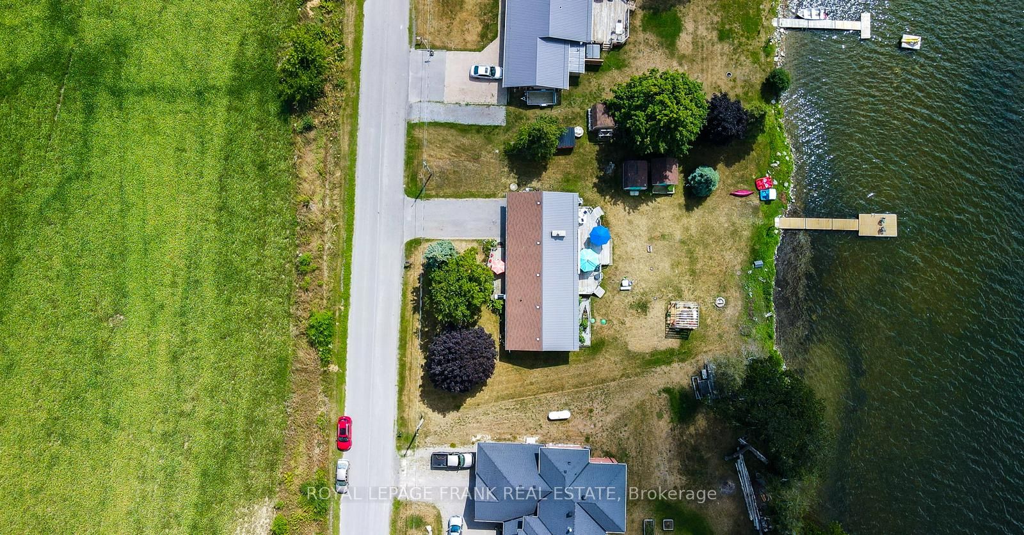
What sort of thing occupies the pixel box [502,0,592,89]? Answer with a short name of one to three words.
house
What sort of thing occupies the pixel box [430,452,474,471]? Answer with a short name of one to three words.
vehicle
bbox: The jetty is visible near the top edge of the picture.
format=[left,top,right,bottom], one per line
[772,12,871,39]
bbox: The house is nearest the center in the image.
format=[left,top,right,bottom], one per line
[495,191,581,352]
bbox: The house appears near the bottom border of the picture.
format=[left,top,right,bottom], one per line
[474,436,627,535]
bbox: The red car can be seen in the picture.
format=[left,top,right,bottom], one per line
[335,416,353,451]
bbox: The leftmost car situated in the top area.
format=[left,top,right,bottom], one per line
[468,62,502,80]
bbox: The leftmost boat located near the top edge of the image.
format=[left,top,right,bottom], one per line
[797,6,829,18]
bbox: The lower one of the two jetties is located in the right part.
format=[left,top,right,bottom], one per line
[775,213,898,236]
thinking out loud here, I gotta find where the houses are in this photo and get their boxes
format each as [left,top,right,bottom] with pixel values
[474,436,627,535]
[495,191,581,352]
[502,0,592,89]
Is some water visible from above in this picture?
Yes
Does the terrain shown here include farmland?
Yes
